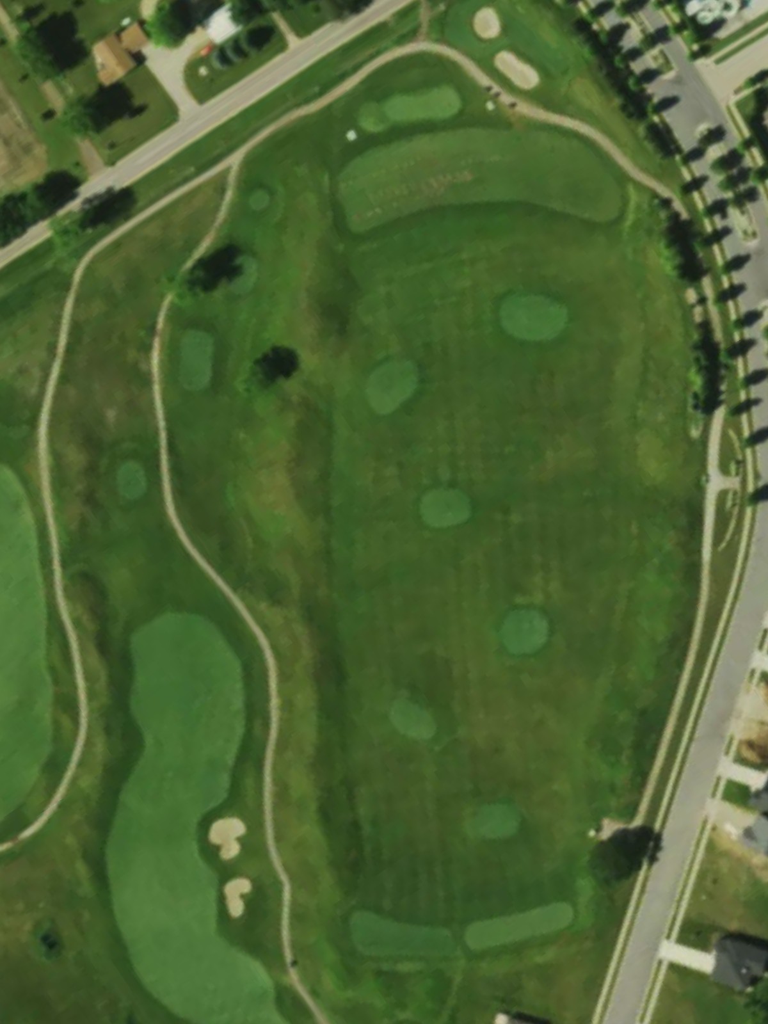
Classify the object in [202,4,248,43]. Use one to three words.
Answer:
house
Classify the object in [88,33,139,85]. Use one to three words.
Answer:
house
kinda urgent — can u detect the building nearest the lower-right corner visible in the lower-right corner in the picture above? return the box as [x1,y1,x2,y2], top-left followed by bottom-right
[713,937,768,988]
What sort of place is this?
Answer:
golf course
